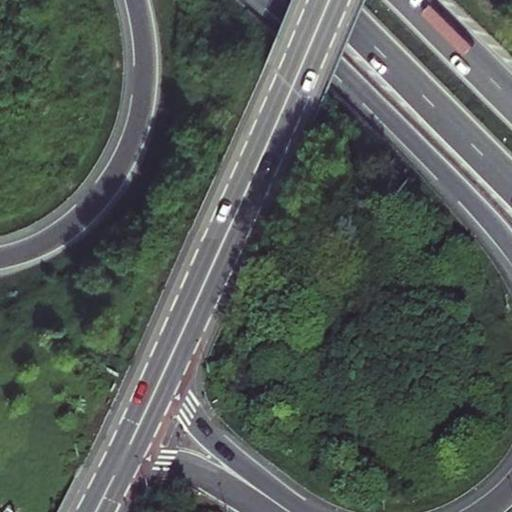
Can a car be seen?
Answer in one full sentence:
Yes, the picture does show a car.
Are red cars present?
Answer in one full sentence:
Yes, looking at the shot, I can spot a red car.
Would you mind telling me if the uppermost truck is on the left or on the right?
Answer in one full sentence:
It is on the right.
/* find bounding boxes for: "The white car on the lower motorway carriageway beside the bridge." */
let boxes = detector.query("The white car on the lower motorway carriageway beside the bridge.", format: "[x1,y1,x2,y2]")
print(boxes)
[368,54,388,74]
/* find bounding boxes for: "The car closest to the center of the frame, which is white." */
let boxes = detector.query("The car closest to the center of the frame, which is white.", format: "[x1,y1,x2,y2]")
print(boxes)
[216,200,232,223]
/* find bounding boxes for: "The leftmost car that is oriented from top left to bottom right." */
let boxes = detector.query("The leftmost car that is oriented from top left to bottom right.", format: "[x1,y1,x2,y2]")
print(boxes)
[196,416,214,437]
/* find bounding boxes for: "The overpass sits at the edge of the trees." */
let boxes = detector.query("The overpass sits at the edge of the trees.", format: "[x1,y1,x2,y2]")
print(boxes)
[240,0,368,118]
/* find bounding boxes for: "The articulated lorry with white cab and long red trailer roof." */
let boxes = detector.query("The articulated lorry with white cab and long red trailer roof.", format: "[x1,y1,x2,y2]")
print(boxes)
[410,0,473,54]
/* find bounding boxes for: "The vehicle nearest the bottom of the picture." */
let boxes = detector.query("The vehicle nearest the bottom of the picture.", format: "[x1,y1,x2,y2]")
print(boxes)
[215,441,236,462]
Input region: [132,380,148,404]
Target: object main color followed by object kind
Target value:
red car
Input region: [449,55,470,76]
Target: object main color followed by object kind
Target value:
white car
